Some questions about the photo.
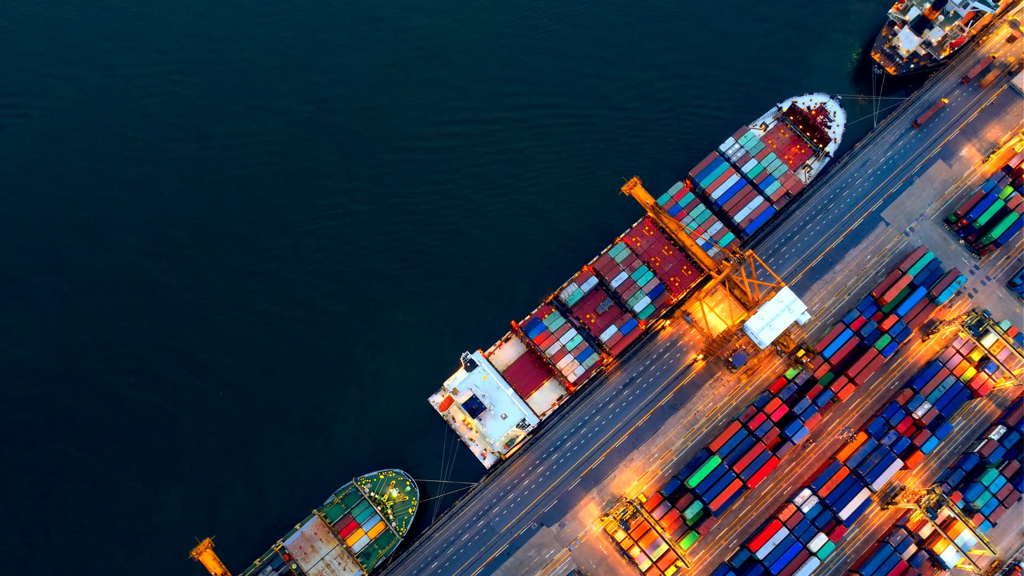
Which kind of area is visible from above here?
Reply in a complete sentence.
What you see here is a port.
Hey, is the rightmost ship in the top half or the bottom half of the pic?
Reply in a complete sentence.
The rightmost ship sits in the top half of the picture.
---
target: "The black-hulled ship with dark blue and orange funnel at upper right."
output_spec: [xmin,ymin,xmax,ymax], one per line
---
[863,0,1011,85]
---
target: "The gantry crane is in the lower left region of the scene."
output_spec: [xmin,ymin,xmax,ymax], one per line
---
[187,539,235,576]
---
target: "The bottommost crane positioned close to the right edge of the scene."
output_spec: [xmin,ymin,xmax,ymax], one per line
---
[885,485,998,576]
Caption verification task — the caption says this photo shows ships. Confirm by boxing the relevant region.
[863,0,1011,85]
[240,470,420,576]
[428,93,845,468]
